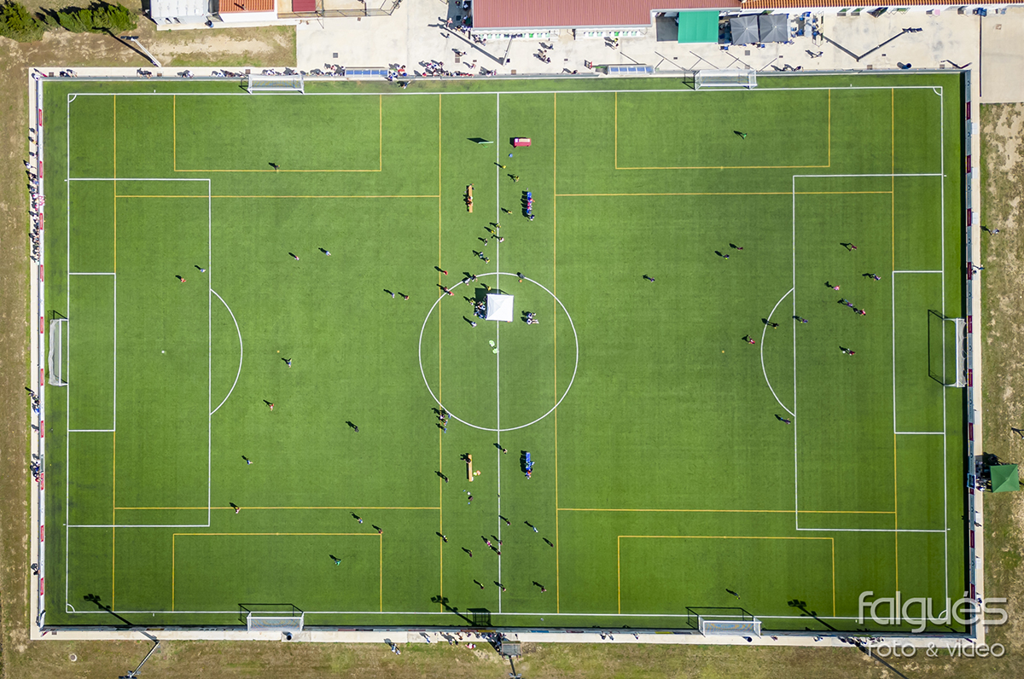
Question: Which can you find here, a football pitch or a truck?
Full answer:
It is a football pitch that can be seen here.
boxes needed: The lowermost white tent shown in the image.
[485,294,514,322]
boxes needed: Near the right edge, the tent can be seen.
[980,461,1020,492]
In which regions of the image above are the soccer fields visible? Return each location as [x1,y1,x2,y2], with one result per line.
[43,73,971,633]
